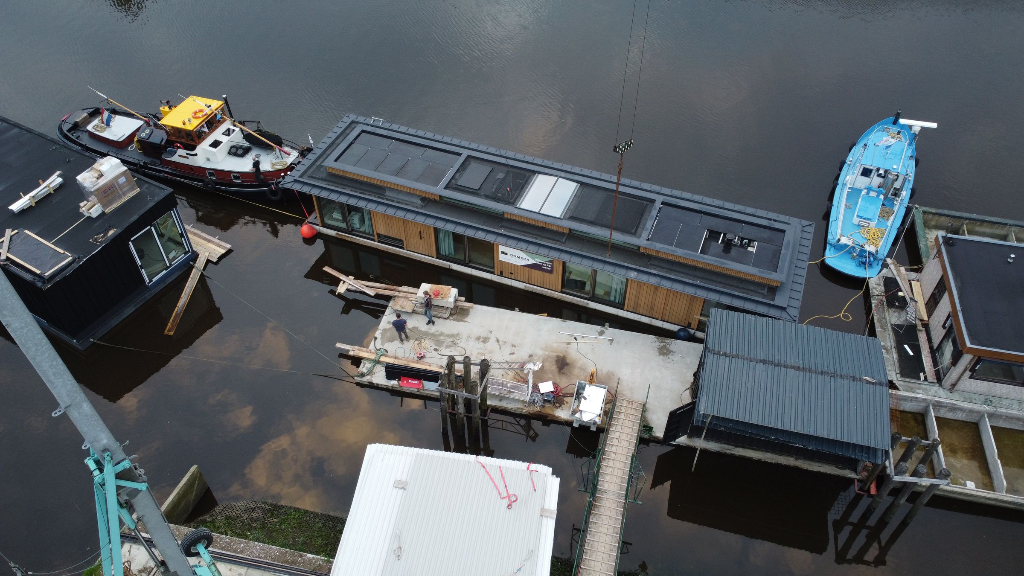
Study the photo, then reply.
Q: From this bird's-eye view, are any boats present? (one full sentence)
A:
Yes, a boat can be made out from above.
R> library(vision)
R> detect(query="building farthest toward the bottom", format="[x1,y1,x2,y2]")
[328,443,564,576]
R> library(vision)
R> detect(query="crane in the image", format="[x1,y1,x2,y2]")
[0,293,195,576]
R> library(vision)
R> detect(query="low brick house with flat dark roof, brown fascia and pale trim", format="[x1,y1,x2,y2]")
[918,232,1024,393]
